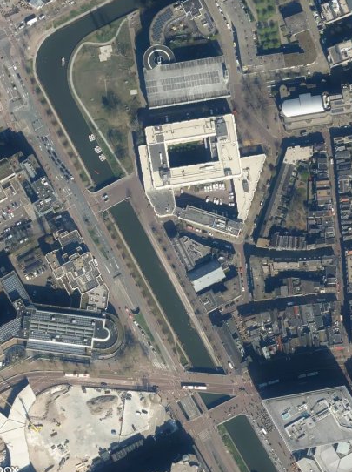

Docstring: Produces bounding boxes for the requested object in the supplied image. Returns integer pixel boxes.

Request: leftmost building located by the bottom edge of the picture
[0,385,36,469]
